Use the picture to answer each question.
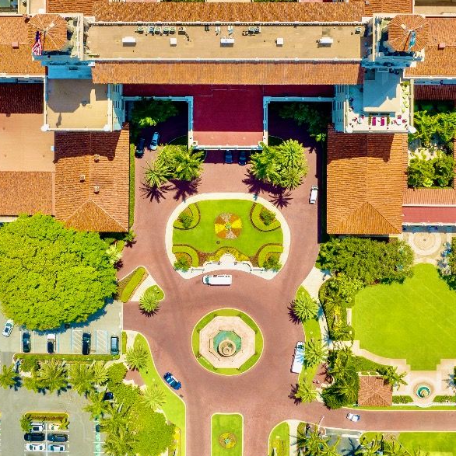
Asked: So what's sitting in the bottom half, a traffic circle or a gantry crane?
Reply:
traffic circle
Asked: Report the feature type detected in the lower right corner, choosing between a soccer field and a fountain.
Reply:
fountain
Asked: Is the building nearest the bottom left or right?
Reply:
right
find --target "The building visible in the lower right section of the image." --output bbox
[358,373,393,407]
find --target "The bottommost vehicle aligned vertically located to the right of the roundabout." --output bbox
[291,339,306,373]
